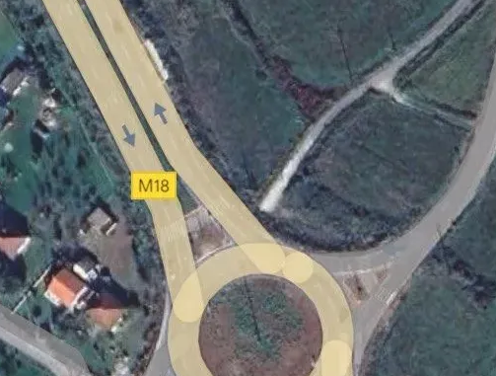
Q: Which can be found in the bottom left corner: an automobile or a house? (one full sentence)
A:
The one visible in the bottom left corner is a house.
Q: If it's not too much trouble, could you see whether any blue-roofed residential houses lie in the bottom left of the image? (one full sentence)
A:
No, the scene shows no blue-roofed residential house in the bottom left of the image.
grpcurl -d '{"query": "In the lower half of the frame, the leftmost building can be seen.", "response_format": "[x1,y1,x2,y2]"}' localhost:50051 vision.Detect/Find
[0,223,28,258]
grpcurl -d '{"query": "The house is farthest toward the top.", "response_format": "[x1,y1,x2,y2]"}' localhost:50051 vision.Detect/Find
[0,66,27,95]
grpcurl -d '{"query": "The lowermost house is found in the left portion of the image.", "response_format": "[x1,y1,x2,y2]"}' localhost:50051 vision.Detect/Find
[85,293,124,328]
